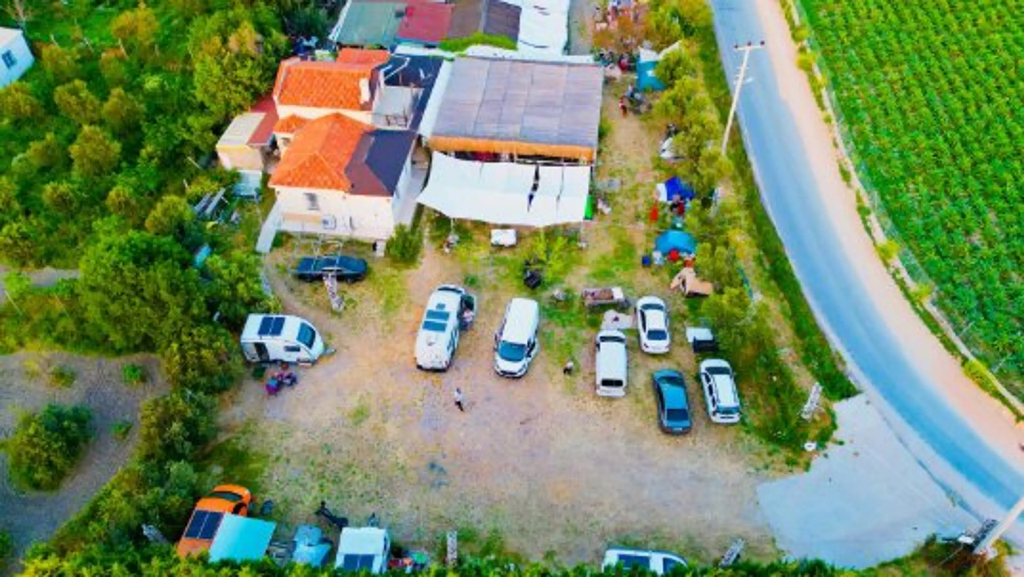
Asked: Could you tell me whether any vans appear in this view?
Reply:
Yes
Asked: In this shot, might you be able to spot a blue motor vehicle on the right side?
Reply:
Yes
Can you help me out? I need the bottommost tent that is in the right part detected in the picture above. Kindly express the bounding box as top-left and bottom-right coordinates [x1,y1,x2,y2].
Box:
[670,269,713,297]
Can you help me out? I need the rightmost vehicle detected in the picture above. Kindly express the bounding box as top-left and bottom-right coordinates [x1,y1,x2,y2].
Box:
[700,358,746,427]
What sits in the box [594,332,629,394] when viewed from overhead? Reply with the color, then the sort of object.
white van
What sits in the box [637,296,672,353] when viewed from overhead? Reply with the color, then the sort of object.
white car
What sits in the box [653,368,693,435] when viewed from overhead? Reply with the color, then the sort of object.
blue car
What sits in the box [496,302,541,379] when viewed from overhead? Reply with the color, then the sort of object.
white van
